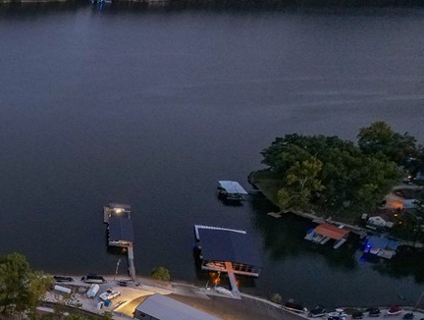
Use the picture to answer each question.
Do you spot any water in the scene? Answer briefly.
Yes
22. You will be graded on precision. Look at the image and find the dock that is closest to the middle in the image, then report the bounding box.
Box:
[216,181,247,202]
